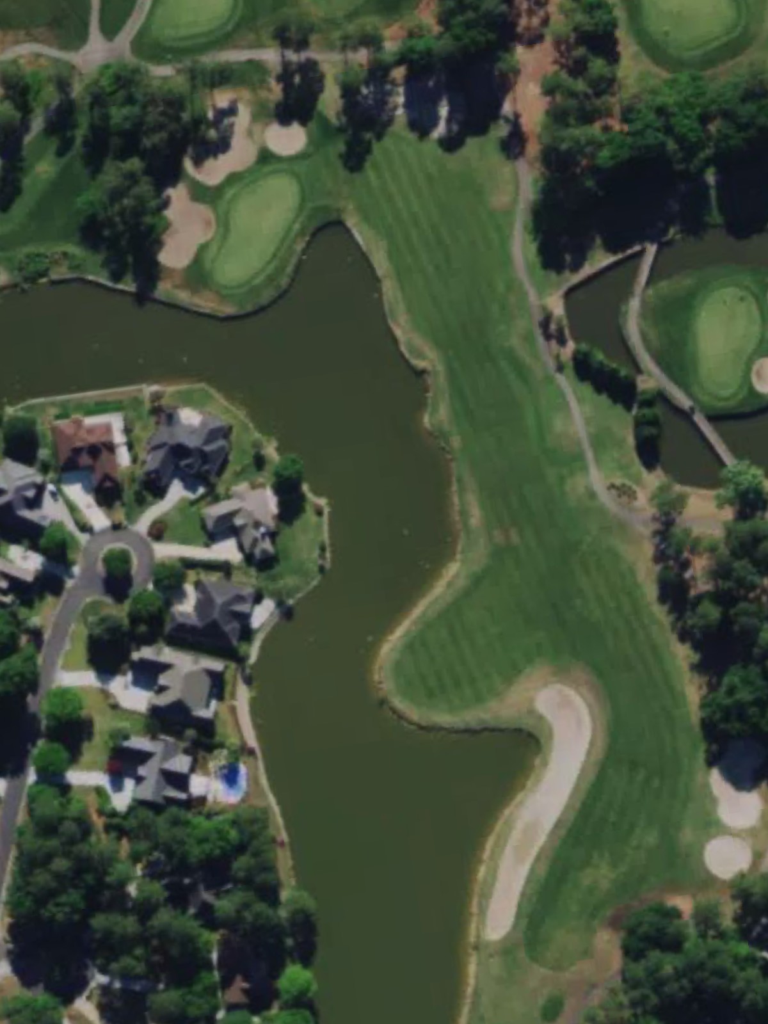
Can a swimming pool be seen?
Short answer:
Yes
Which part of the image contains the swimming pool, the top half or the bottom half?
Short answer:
bottom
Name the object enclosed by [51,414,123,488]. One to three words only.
house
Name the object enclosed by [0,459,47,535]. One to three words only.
house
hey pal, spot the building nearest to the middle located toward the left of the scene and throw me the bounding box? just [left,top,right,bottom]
[197,479,284,566]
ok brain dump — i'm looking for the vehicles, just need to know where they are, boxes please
[688,403,695,411]
[47,483,58,498]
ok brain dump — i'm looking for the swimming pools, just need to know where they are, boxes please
[216,760,246,799]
